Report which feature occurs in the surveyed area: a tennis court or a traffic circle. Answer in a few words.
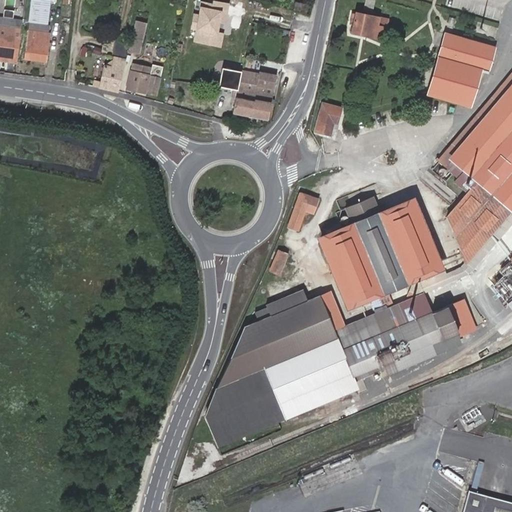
traffic circle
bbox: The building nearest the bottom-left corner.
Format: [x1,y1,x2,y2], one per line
[204,368,286,450]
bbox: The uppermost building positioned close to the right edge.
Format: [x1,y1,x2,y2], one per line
[428,30,498,108]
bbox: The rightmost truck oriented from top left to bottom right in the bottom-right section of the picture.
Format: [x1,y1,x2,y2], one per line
[434,461,466,486]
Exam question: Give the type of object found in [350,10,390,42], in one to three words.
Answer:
house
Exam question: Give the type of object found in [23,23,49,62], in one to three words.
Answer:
house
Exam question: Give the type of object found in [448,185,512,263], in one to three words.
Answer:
building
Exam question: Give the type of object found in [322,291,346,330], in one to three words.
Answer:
shed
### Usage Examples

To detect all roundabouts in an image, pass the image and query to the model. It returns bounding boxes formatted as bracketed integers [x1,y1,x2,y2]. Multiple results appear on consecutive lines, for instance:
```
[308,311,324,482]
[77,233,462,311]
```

[170,142,282,254]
